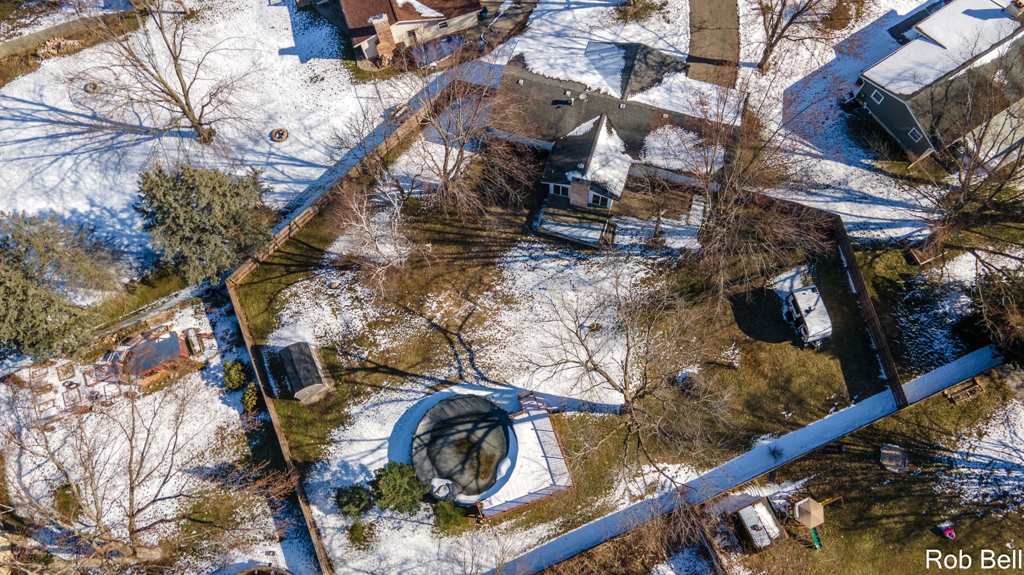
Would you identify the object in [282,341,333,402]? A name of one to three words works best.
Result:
shed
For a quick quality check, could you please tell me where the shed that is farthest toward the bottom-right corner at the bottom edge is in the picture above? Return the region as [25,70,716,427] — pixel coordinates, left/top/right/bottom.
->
[734,496,789,551]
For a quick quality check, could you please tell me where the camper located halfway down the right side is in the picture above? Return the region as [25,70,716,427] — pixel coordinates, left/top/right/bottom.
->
[784,288,831,359]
